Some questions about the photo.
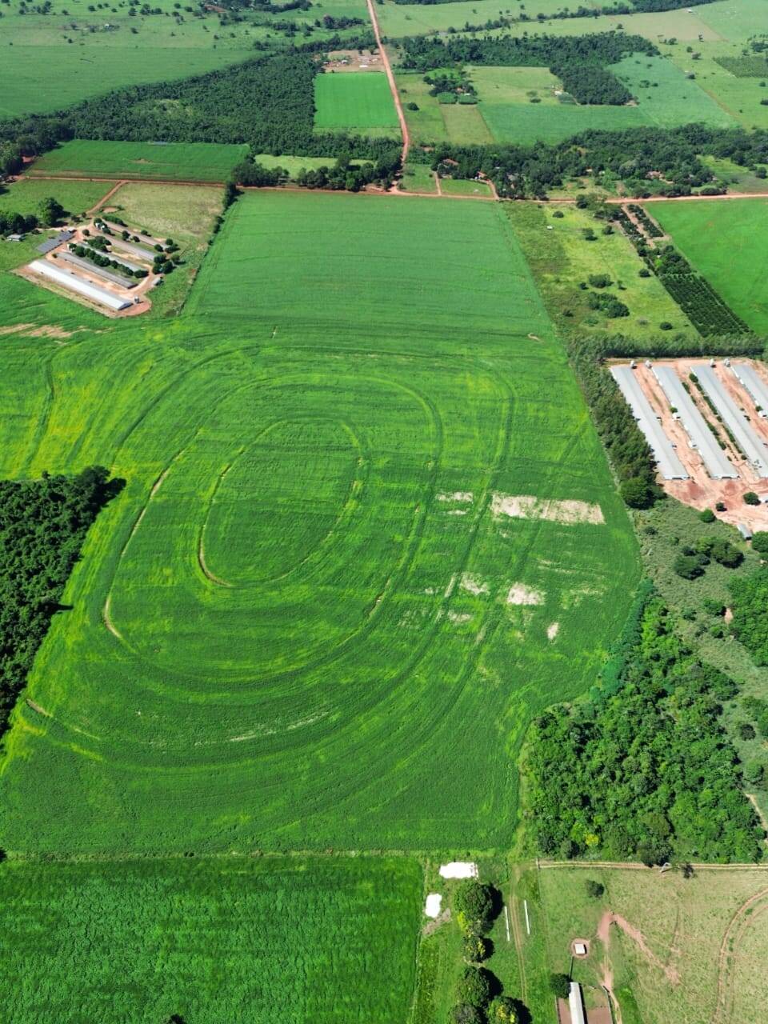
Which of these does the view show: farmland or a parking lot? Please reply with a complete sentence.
This image shows farmland.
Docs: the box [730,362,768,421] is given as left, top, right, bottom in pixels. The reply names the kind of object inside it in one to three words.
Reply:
shed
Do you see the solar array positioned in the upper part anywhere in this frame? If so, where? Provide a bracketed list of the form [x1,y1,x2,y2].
[36,232,73,252]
